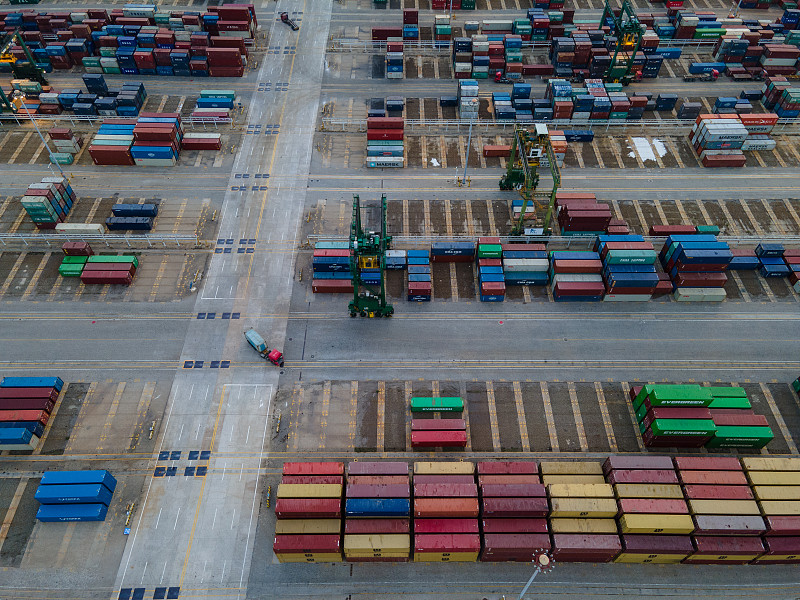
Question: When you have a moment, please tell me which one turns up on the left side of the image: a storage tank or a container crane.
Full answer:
The one visible on the left side of the image is a container crane.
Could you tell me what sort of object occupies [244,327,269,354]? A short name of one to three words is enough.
shipping container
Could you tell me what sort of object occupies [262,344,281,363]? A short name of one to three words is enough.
vehicle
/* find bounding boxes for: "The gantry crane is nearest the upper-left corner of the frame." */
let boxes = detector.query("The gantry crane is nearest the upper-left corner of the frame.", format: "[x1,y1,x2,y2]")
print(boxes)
[0,30,48,126]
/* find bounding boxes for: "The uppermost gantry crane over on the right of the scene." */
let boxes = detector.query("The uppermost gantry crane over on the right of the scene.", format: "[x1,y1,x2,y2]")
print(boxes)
[597,0,647,84]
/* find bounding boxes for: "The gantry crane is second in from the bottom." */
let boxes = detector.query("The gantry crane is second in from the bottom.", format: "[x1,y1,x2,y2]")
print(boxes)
[502,123,564,239]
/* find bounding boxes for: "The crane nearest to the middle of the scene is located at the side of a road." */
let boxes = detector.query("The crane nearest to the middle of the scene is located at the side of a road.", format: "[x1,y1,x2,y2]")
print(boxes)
[347,191,398,319]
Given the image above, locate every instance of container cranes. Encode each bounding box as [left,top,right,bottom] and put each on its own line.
[347,191,398,319]
[502,123,564,239]
[597,0,647,84]
[0,30,48,126]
